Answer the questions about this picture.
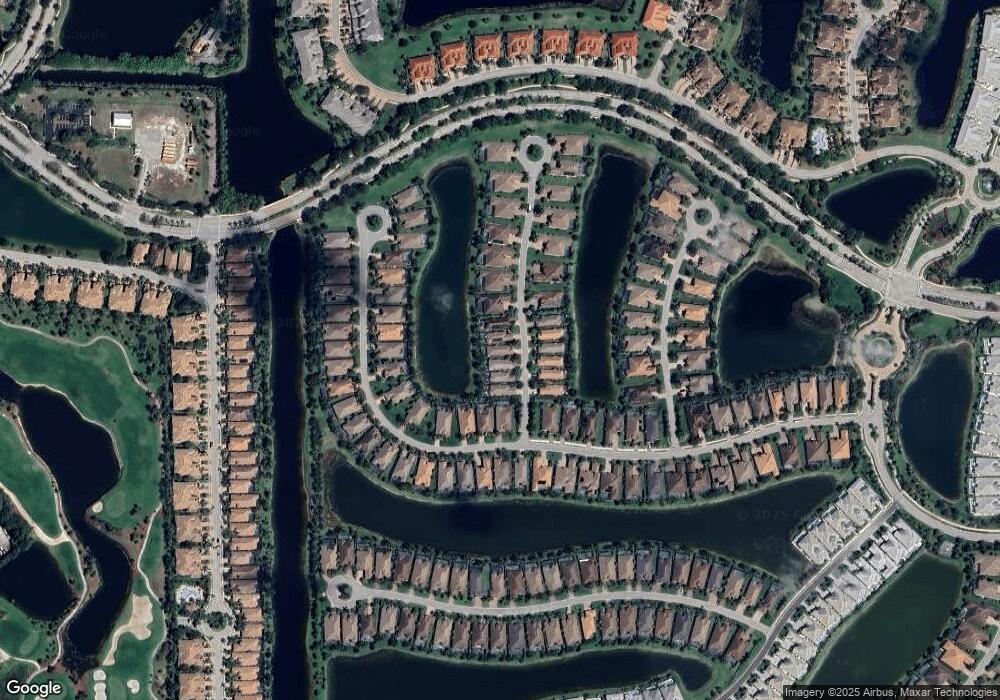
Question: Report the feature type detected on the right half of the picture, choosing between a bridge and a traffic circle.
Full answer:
The feature located on the right half of the picture is a traffic circle.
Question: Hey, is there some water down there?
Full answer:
Yes, water can be seen from above here.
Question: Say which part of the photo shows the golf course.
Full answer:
The golf course is located in the bottom left region of the scene.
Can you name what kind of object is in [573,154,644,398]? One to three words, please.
pond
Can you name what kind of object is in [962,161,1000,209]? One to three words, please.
roundabout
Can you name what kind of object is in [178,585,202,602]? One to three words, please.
swimming pool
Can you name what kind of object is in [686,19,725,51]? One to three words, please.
house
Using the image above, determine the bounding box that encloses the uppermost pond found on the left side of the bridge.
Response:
[0,167,124,253]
